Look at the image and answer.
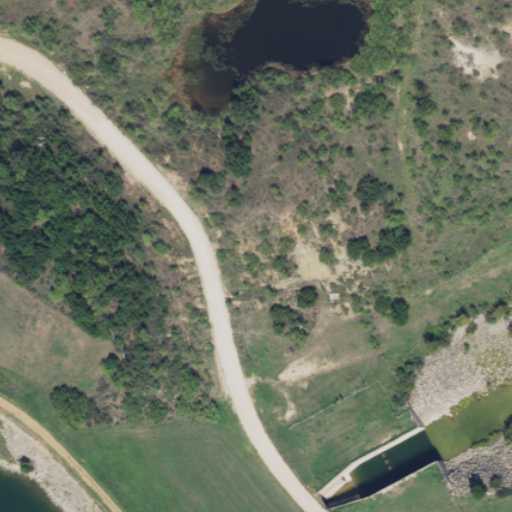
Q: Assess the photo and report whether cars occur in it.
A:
No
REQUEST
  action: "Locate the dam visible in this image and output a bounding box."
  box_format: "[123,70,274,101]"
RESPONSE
[0,396,208,512]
